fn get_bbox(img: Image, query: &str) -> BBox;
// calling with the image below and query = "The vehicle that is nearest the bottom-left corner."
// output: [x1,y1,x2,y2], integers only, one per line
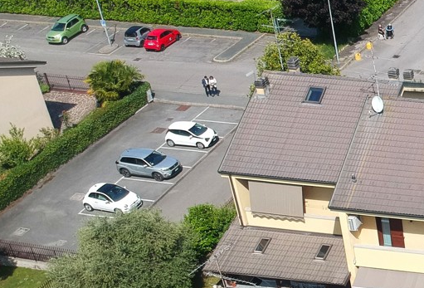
[76,178,143,215]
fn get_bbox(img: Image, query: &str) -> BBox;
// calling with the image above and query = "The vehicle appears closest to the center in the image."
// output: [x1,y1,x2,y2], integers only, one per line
[159,118,217,150]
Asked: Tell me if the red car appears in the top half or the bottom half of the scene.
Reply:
top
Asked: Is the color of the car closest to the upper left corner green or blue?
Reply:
green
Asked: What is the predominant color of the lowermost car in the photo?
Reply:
white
